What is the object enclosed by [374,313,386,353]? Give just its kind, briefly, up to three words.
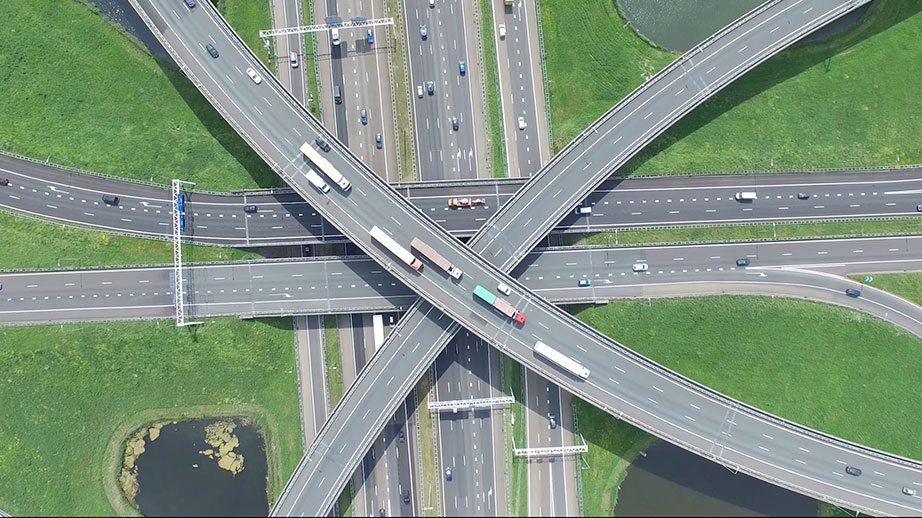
vehicle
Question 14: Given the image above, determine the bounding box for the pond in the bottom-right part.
[613,440,818,518]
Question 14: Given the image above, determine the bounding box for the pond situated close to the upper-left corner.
[90,0,180,70]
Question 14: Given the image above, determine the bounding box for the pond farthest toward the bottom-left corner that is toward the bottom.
[121,416,270,518]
